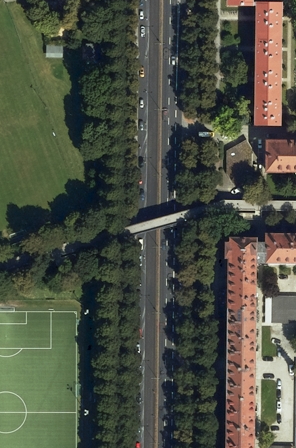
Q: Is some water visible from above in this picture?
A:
No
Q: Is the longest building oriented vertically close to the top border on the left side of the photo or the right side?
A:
right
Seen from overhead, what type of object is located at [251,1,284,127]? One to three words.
building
